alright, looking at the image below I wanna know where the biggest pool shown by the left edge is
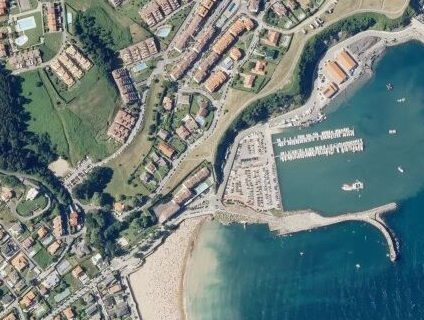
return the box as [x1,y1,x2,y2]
[15,16,36,31]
